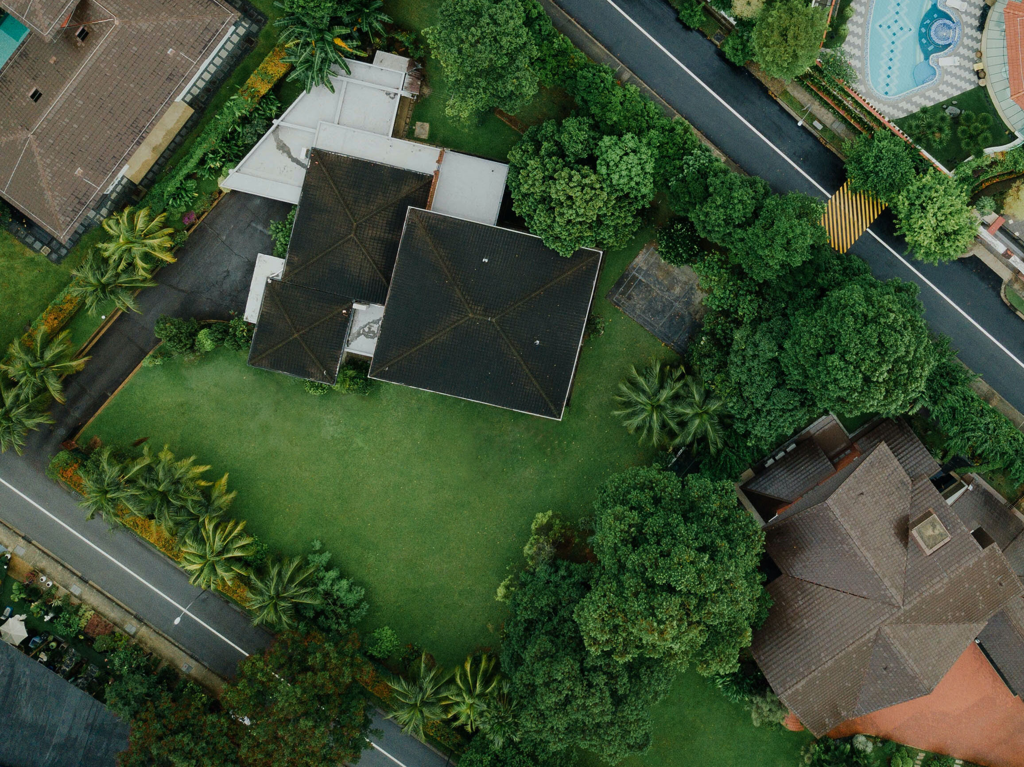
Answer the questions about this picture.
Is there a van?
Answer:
No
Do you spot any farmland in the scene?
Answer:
No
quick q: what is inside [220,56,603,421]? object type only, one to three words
house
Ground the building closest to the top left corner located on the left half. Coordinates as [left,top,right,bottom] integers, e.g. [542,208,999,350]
[0,0,241,243]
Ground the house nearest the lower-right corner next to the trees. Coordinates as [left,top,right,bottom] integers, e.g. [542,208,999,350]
[737,413,1024,739]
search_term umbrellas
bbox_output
[2,614,32,644]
